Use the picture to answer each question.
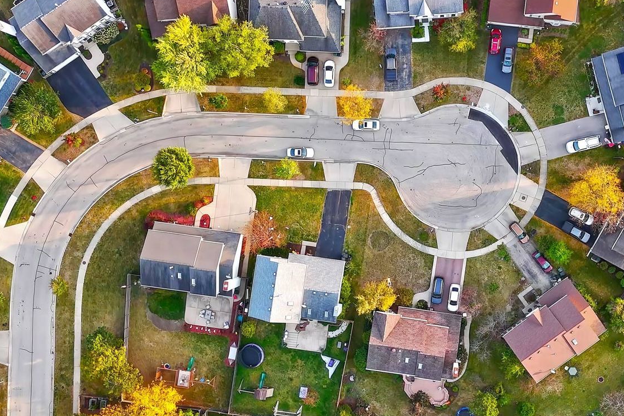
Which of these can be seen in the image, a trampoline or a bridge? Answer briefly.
trampoline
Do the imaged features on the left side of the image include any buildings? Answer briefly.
Yes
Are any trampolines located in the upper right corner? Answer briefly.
No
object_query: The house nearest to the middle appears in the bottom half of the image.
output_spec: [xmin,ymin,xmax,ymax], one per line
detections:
[250,253,347,324]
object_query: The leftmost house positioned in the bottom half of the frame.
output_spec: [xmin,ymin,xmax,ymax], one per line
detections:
[135,222,246,298]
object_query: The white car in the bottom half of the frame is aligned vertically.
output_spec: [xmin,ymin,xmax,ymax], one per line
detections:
[448,284,460,312]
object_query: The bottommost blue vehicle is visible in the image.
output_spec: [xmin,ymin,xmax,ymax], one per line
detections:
[431,277,444,305]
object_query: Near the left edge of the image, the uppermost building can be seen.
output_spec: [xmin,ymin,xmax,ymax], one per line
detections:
[0,0,116,74]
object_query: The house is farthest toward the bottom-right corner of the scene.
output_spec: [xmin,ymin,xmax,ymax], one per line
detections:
[502,277,606,383]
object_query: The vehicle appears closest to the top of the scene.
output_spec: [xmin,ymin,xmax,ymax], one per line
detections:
[489,28,501,55]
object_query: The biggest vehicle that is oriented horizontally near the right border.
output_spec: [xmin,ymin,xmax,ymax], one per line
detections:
[565,134,602,153]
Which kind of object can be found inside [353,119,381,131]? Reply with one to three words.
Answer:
vehicle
